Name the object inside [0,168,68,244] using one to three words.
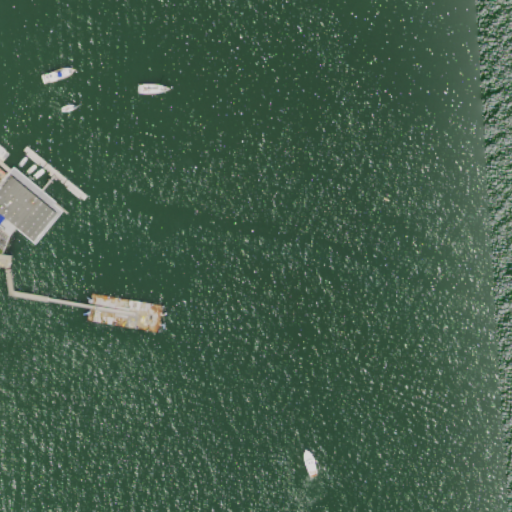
building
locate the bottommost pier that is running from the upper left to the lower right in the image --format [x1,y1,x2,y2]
[0,254,49,302]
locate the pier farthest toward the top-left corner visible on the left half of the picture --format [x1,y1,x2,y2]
[24,147,87,200]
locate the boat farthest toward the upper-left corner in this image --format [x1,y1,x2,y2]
[40,68,78,84]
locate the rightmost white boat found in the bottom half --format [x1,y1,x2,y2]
[304,450,318,479]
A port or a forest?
port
